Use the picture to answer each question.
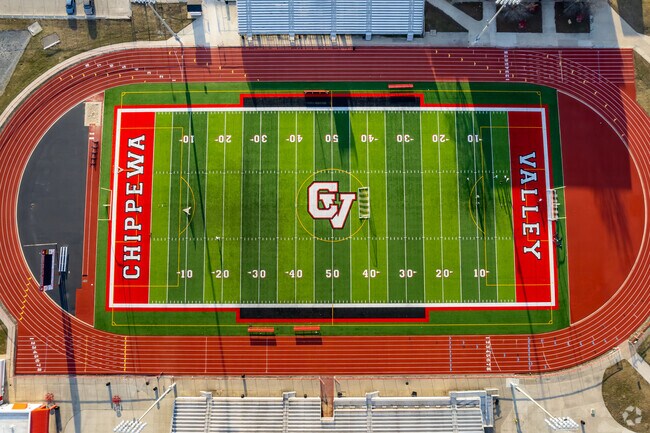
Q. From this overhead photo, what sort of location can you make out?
sports ground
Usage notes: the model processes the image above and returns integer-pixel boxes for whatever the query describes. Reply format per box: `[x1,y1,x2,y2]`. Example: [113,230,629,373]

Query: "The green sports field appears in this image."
[93,83,572,334]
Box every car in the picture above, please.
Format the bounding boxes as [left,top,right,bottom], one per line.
[64,0,76,14]
[81,0,93,14]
